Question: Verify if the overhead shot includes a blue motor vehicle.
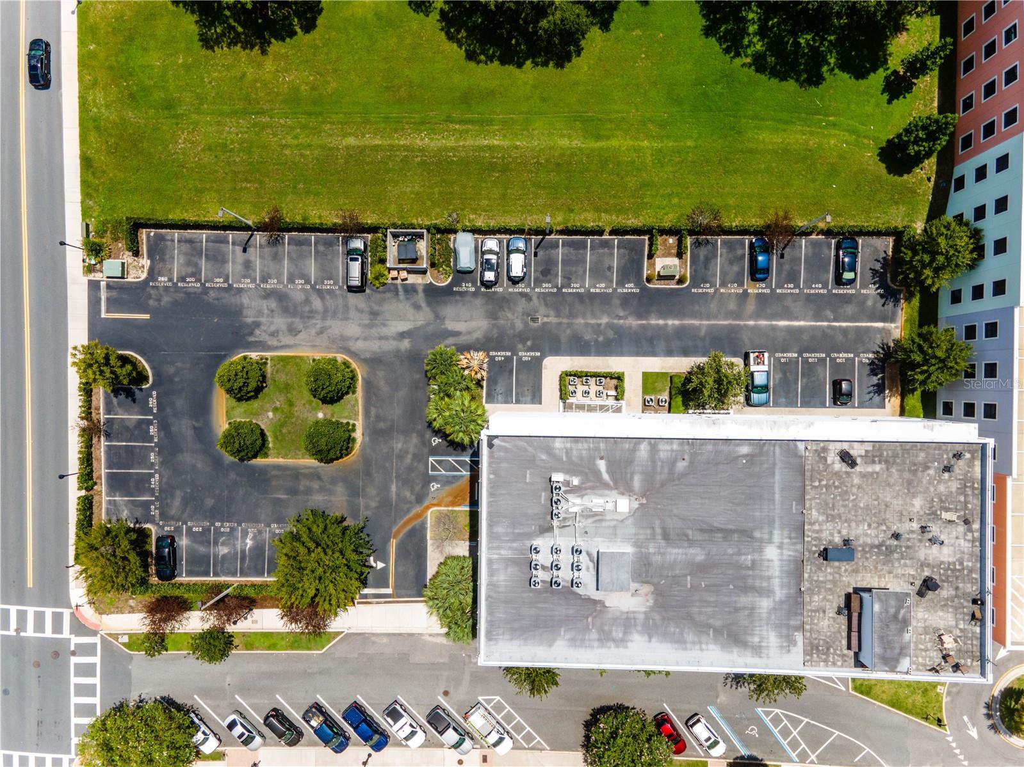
Yes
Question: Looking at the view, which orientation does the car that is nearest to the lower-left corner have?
on a diagonal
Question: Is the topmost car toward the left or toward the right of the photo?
left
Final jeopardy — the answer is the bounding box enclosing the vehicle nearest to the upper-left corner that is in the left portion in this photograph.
[24,39,55,90]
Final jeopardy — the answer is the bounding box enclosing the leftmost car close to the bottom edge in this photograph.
[176,705,224,754]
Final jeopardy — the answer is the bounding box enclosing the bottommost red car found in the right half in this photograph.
[650,709,688,755]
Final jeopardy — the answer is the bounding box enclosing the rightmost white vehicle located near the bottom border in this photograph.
[683,708,726,758]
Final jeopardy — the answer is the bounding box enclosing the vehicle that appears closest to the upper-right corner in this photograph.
[833,237,860,287]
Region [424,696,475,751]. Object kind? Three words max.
truck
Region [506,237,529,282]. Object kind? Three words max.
car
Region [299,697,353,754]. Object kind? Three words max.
truck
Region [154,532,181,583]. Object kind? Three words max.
car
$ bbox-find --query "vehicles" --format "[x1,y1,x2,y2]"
[830,377,854,406]
[342,238,368,292]
[299,697,353,754]
[424,696,475,751]
[176,705,224,754]
[477,238,502,288]
[219,704,267,753]
[340,697,391,751]
[378,695,429,749]
[259,701,307,749]
[745,348,772,408]
[683,708,726,758]
[459,695,512,753]
[506,237,529,282]
[747,234,773,285]
[833,237,860,287]
[154,532,181,583]
[24,39,55,90]
[650,709,688,755]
